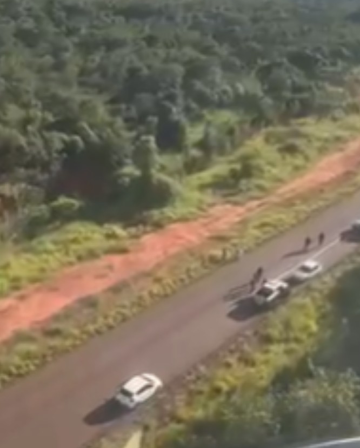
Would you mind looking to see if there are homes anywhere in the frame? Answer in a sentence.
No, the frame has no home in it.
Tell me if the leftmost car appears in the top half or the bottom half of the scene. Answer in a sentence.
The leftmost car is in the bottom half of the image.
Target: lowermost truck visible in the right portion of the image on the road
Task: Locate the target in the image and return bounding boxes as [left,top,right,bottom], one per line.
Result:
[250,274,293,305]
